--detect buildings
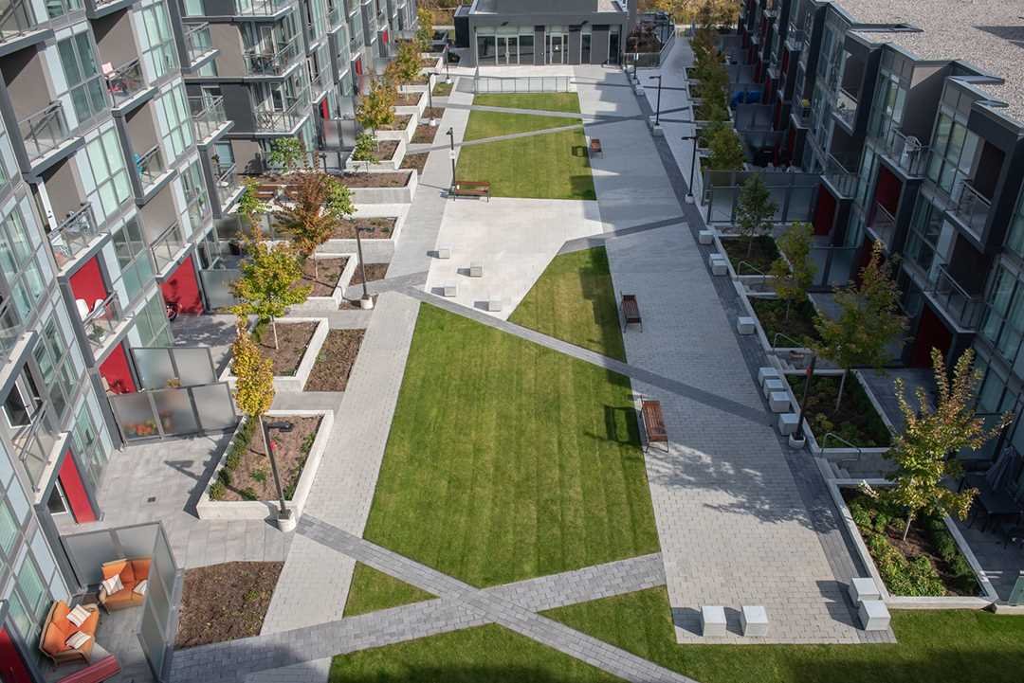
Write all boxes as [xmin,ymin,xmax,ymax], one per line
[730,0,1024,469]
[464,0,641,66]
[0,0,248,683]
